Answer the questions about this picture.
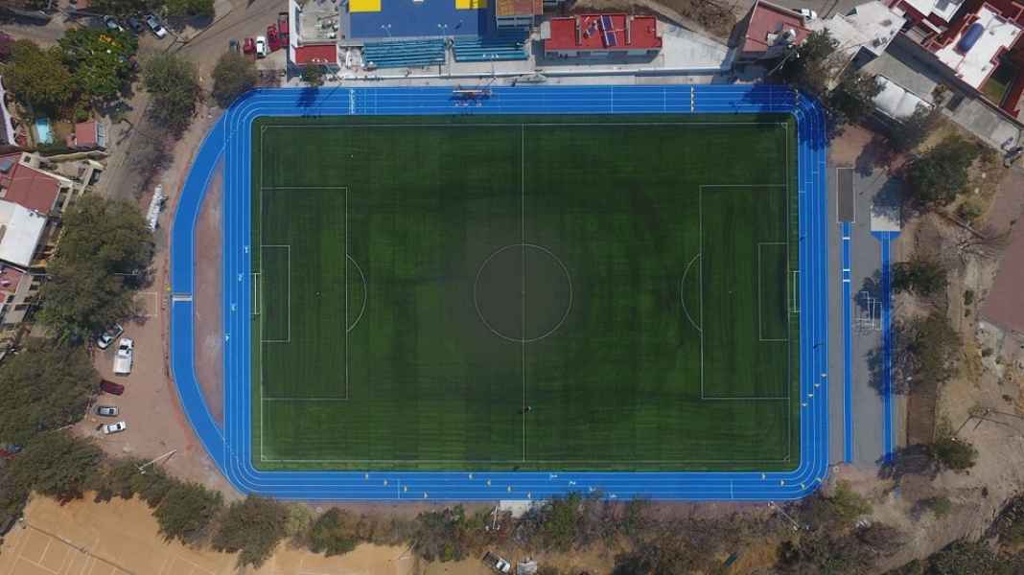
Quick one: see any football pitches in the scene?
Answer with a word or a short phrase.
Yes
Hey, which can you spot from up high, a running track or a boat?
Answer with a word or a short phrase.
running track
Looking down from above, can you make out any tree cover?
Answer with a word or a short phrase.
Yes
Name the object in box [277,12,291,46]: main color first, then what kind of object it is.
red vehicle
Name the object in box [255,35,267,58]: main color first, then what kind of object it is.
white vehicle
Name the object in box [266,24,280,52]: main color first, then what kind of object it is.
red vehicle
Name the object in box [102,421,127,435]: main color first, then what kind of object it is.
white car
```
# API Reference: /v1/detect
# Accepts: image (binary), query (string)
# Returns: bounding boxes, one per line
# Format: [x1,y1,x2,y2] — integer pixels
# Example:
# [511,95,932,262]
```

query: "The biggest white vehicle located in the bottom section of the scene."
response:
[108,337,132,376]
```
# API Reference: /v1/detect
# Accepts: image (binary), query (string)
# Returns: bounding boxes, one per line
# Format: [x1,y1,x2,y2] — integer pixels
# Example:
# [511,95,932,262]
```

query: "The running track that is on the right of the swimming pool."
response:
[171,83,831,501]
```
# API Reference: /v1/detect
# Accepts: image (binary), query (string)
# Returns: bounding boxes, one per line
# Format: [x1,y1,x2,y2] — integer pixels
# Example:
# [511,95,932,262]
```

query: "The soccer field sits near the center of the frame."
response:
[251,112,801,472]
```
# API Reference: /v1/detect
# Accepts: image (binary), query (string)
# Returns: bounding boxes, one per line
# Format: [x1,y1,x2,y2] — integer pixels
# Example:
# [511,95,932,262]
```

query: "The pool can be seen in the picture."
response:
[34,115,53,145]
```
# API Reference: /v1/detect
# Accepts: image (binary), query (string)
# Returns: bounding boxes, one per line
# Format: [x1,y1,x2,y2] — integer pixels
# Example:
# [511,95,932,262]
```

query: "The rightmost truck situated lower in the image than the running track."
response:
[481,551,513,574]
